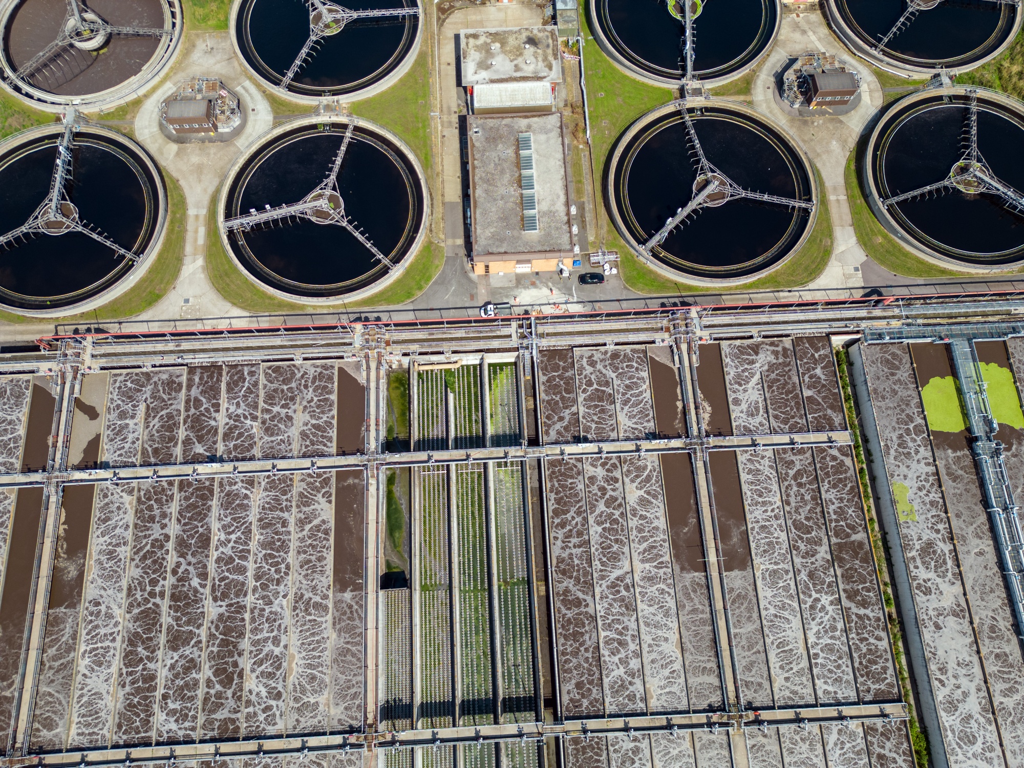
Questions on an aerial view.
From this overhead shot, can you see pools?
No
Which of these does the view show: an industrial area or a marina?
industrial area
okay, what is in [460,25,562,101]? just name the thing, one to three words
house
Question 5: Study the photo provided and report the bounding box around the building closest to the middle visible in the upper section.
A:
[468,112,574,274]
